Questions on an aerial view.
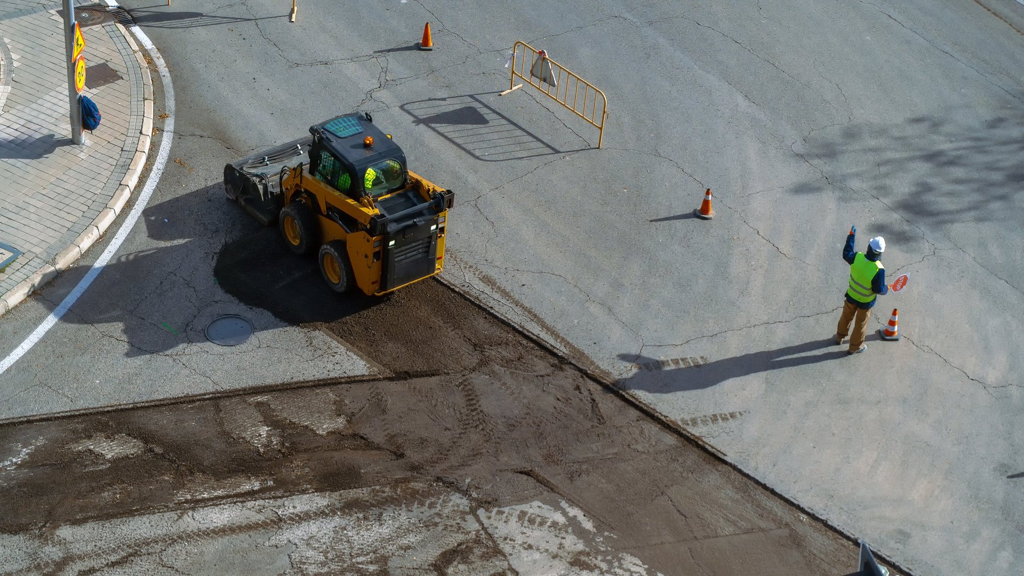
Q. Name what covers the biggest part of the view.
paved ground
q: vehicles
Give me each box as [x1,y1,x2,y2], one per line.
[224,110,454,299]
